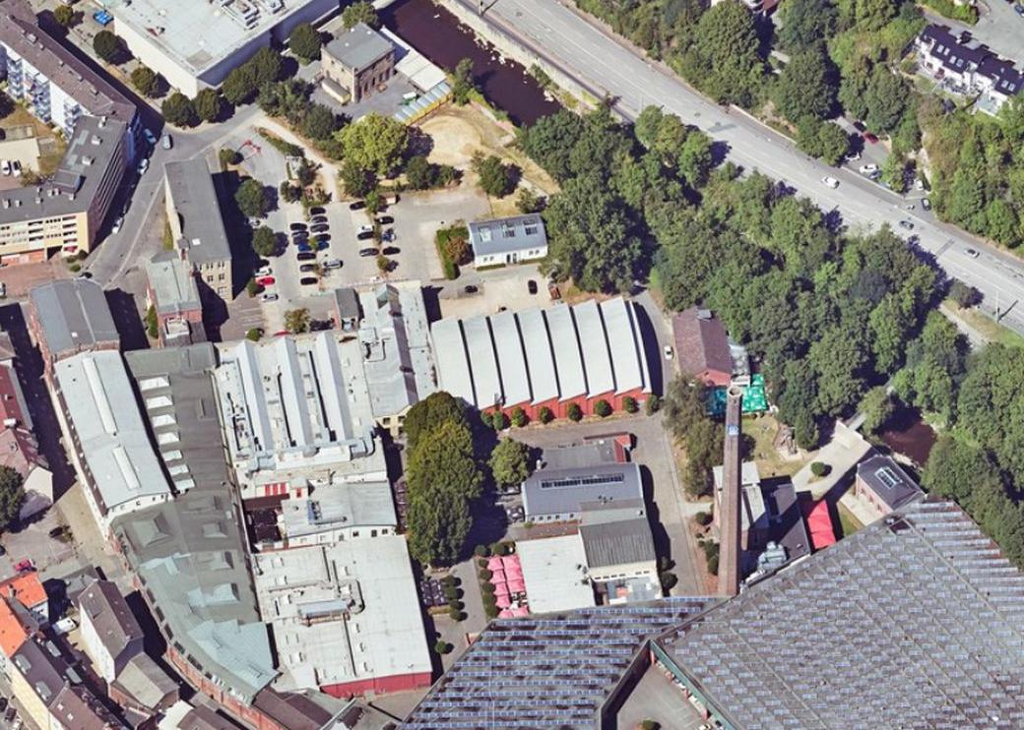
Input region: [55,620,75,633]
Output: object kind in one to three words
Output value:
vehicle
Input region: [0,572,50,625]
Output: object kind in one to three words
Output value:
house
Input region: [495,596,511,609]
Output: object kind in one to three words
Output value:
umbrella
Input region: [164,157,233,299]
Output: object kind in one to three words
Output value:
building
